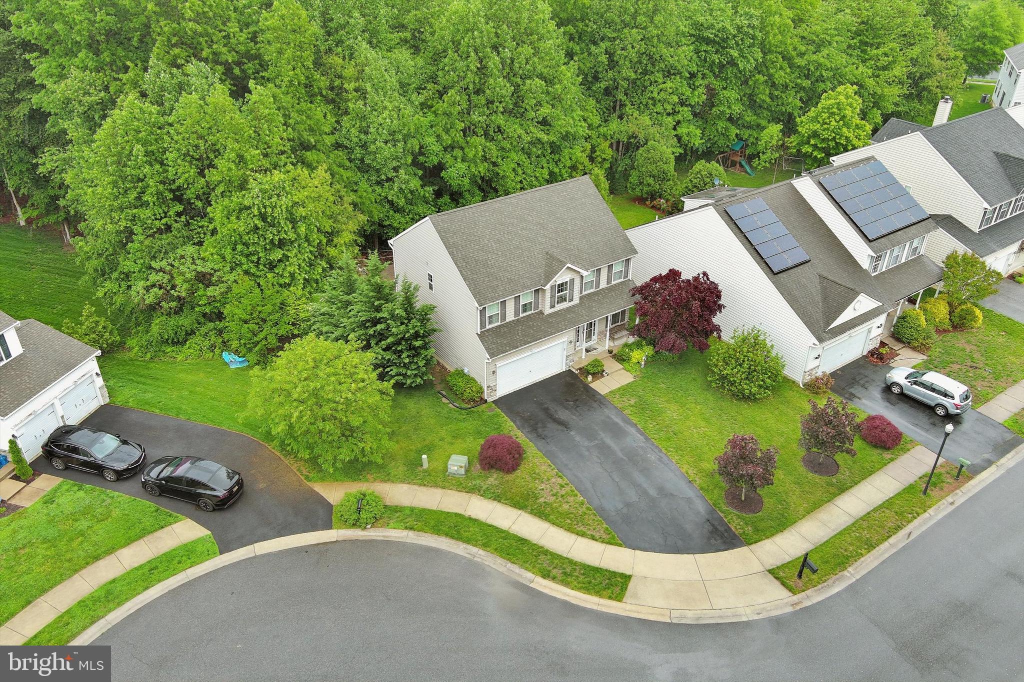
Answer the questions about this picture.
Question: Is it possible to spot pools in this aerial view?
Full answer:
No, I can't see a single pool in this photo.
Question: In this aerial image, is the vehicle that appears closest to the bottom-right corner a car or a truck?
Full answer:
It turns out the vehicle that appears closest to the bottom-right corner is a car.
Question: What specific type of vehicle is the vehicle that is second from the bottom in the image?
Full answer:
I'd say the vehicle that is second from the bottom is an automobile.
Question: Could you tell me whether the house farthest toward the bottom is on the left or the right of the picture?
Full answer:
The house farthest toward the bottom is on the left side of the image.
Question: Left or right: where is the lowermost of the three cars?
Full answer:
The lowermost of the three cars appears in the left half of the scene.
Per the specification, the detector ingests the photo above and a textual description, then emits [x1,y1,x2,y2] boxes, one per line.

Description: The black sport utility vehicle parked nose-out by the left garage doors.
[40,424,147,481]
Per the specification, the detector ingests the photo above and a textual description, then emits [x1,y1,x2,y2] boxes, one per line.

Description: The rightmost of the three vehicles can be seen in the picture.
[888,365,974,415]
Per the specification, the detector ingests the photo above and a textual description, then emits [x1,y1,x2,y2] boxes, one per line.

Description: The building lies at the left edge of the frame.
[0,306,109,470]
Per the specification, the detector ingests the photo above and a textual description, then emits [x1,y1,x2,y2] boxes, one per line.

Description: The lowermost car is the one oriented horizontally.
[138,454,245,511]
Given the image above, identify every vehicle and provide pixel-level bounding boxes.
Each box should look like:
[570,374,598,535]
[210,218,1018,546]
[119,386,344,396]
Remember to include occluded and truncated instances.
[888,365,974,415]
[40,424,147,481]
[138,454,245,511]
